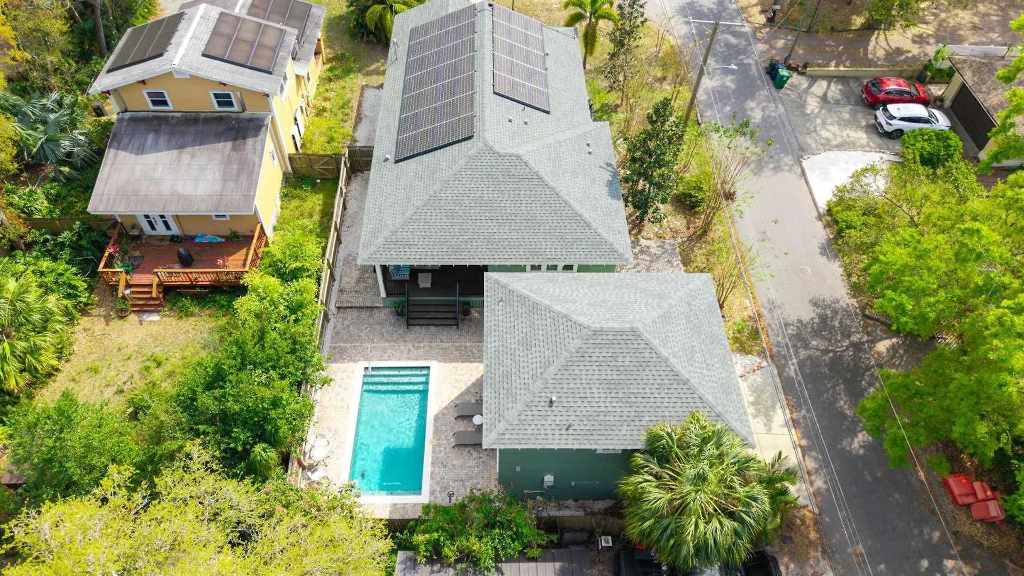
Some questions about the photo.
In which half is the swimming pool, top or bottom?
bottom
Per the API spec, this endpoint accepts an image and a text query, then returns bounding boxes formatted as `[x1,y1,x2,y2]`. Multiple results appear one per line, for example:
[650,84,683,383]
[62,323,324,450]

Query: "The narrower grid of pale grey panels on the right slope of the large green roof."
[493,3,552,114]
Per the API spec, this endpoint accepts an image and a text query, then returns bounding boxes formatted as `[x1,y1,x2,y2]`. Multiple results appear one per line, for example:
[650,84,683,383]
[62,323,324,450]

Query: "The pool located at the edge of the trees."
[337,361,437,502]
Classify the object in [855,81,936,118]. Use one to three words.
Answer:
car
